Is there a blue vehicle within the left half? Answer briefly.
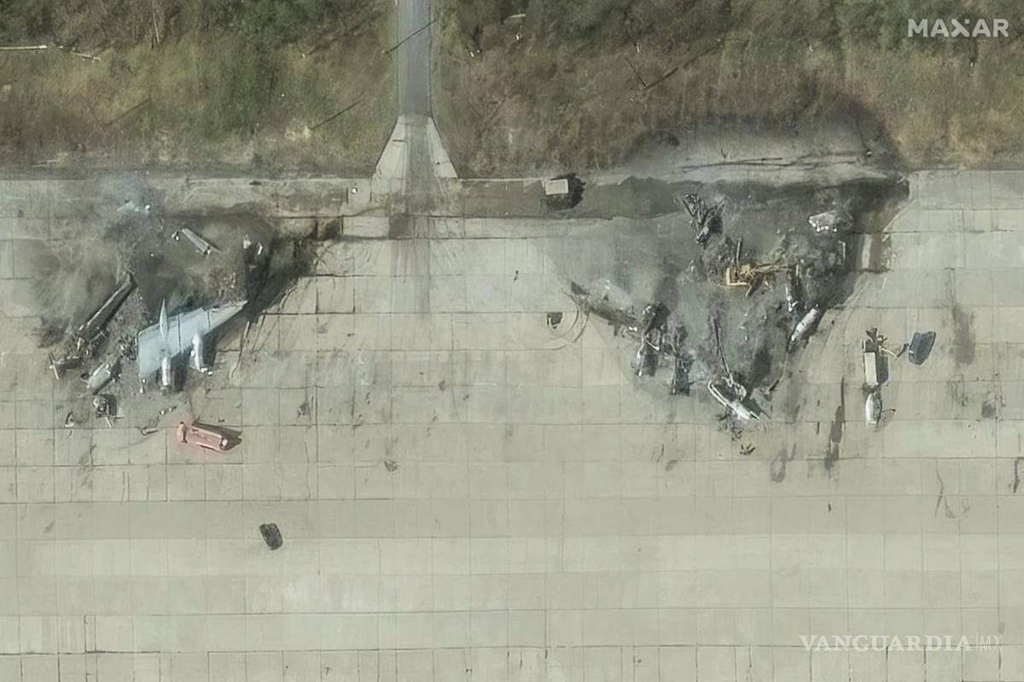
No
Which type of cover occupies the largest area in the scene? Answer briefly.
paved ground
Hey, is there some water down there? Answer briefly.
No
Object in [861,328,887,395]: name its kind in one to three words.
truck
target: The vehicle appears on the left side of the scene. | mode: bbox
[178,417,226,453]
